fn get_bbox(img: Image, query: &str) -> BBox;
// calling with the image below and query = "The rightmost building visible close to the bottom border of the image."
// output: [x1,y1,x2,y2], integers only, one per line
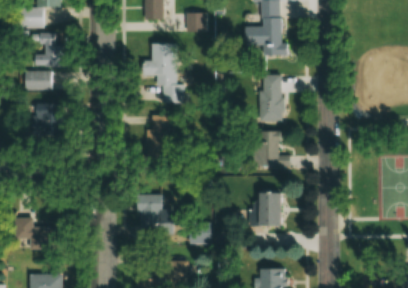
[253,268,290,288]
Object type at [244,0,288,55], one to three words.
house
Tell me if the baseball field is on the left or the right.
right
